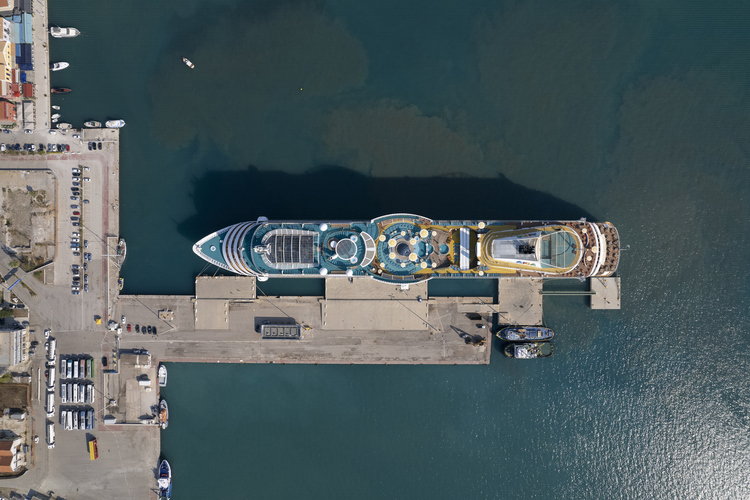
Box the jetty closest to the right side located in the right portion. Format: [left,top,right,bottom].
[589,277,620,309]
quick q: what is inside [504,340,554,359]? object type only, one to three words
boat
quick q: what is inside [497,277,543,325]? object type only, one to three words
pier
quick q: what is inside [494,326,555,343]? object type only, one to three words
boat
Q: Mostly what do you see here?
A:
water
